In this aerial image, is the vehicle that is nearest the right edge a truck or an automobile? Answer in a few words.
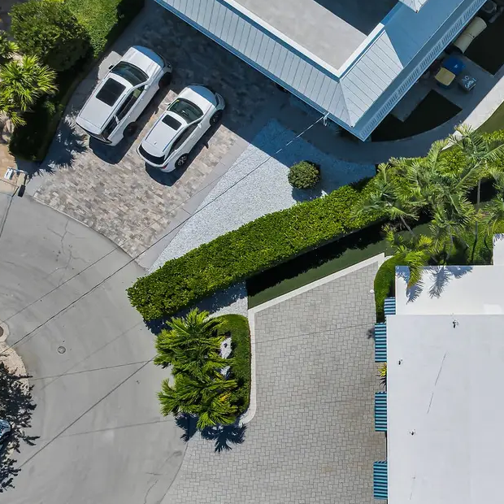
automobile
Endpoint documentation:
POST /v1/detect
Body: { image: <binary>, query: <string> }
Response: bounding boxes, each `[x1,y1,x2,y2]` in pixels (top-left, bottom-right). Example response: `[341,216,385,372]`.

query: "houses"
[147,0,488,142]
[374,233,504,504]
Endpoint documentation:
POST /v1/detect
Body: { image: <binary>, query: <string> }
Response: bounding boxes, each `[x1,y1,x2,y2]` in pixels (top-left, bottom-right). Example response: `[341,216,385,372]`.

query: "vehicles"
[139,83,225,178]
[0,420,9,449]
[81,43,174,150]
